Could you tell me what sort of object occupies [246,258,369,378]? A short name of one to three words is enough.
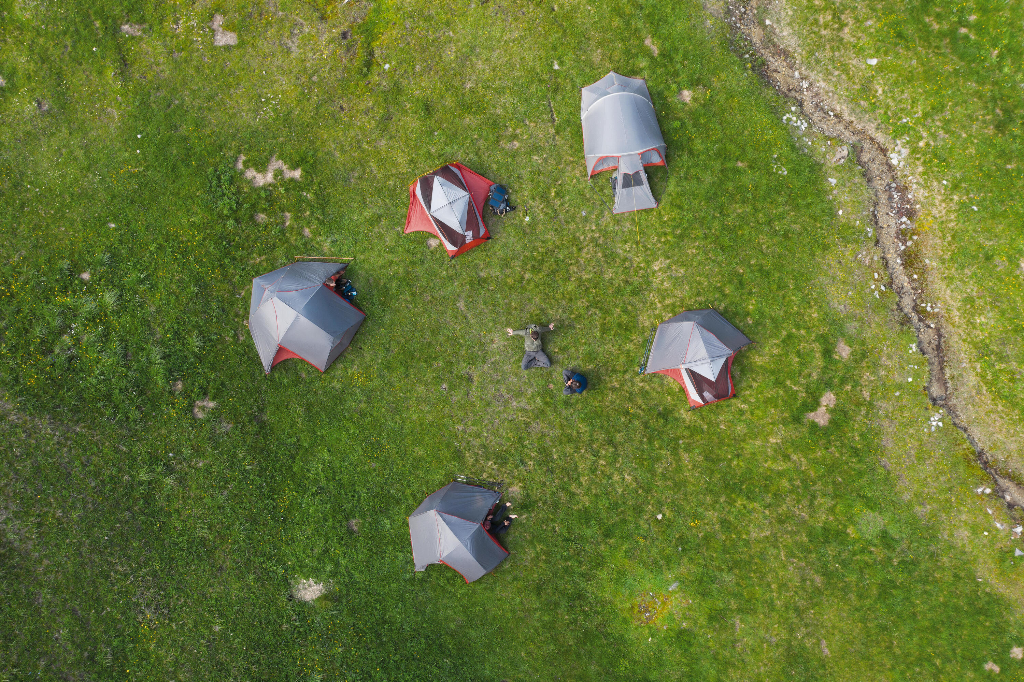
tent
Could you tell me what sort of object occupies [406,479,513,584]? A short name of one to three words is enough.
tent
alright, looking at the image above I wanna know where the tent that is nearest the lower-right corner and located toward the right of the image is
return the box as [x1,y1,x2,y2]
[643,304,755,415]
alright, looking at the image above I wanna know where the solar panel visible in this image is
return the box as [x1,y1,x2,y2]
[489,186,507,208]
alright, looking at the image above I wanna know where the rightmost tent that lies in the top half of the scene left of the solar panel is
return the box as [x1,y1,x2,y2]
[401,160,495,262]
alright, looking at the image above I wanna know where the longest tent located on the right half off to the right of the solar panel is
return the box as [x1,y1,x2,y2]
[579,70,668,245]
